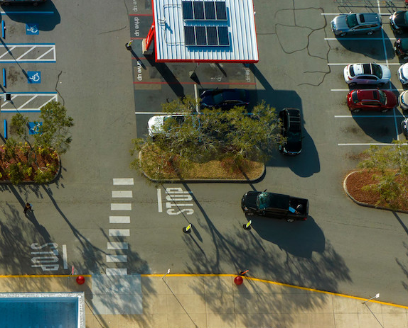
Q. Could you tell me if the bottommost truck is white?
No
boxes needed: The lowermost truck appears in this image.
[239,189,312,223]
